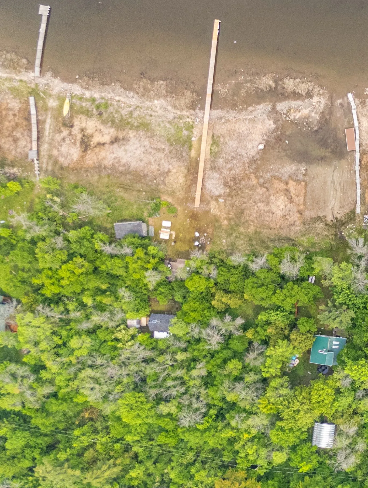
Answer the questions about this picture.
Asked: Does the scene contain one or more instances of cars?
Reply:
No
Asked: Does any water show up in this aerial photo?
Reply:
Yes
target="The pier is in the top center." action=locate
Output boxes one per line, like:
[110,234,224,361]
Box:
[195,19,220,207]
